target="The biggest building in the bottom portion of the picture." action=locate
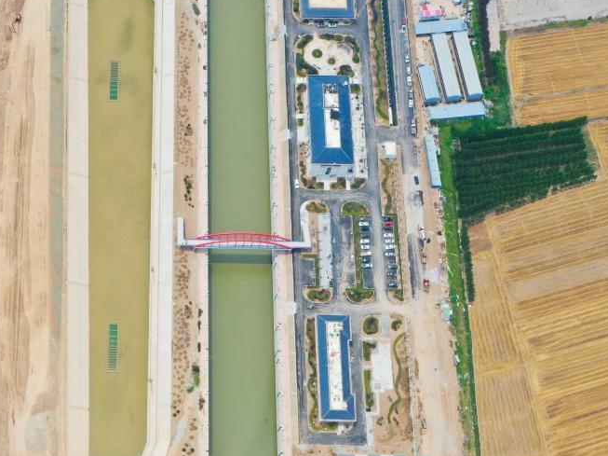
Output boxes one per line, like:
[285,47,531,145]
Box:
[315,314,355,424]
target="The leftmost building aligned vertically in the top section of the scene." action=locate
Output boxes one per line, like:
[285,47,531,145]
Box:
[308,75,354,167]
